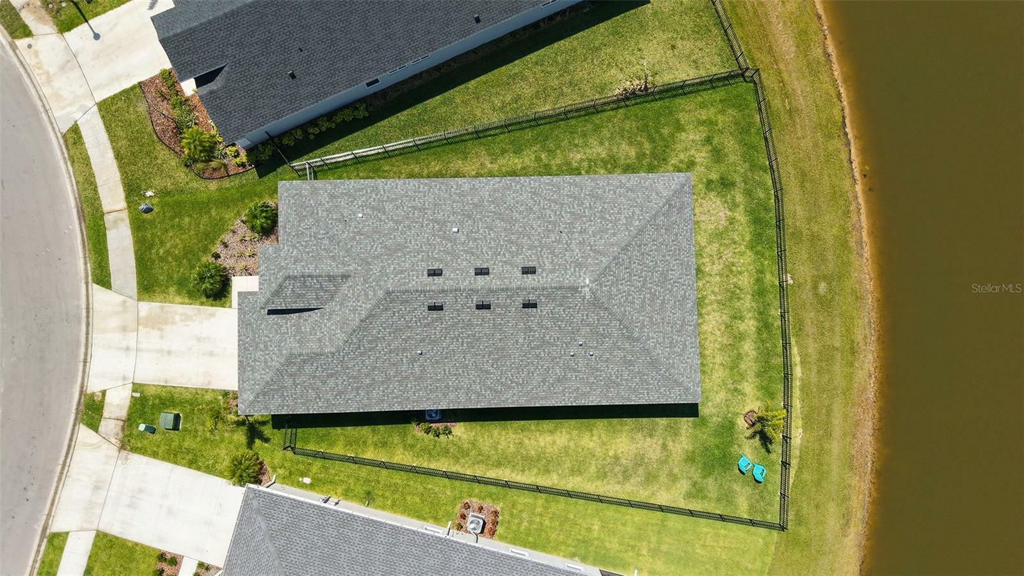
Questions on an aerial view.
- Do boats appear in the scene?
No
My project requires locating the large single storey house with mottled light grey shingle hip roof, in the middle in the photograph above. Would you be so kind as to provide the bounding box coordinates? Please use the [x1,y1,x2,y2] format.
[236,171,702,418]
